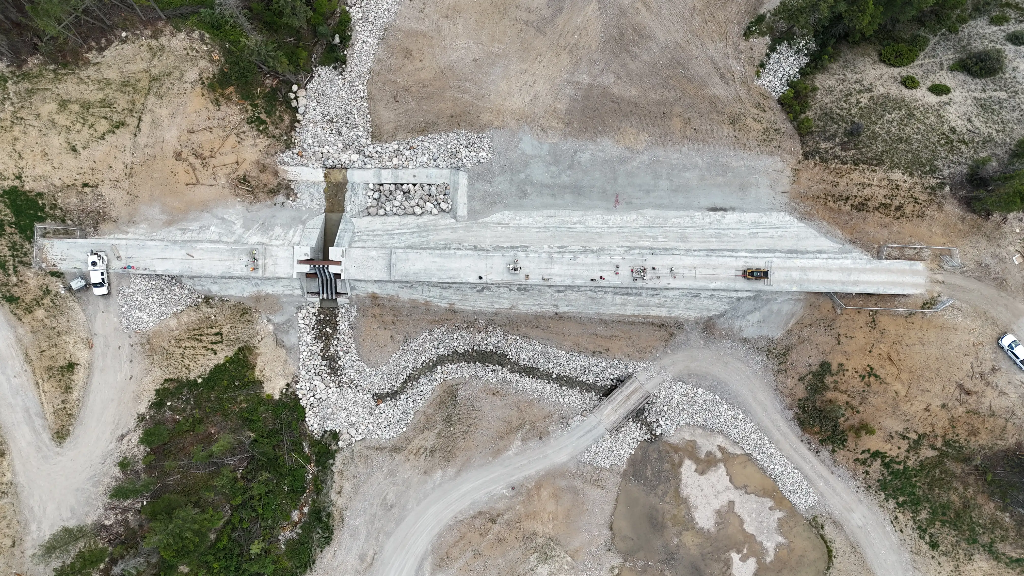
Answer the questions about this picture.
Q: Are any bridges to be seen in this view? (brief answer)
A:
Yes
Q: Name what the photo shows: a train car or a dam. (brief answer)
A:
dam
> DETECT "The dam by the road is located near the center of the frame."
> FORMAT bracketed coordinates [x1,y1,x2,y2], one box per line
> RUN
[40,209,926,320]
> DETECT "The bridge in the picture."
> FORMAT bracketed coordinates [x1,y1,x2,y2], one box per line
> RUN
[591,374,652,432]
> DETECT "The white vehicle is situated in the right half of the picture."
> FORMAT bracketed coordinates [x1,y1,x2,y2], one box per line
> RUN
[998,334,1024,374]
